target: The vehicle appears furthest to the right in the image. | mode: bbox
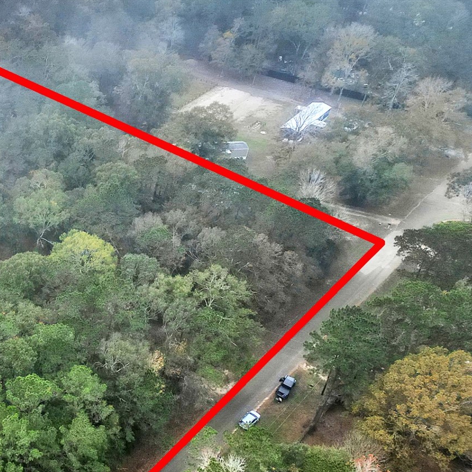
[275,377,297,401]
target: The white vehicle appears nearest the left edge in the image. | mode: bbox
[239,411,261,434]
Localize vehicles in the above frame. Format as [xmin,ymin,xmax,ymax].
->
[239,411,261,434]
[275,377,297,401]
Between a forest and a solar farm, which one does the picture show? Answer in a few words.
forest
